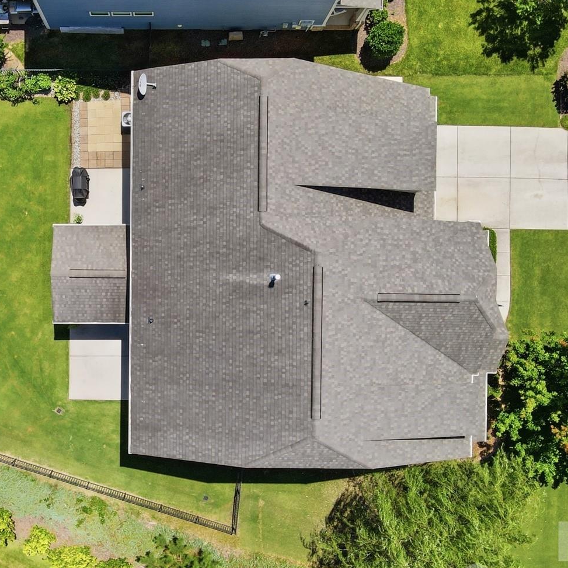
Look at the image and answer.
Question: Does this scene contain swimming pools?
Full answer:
No, no swimming pool can be seen from above.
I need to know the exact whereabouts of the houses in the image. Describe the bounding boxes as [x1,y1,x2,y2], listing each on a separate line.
[51,56,510,470]
[25,0,384,38]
